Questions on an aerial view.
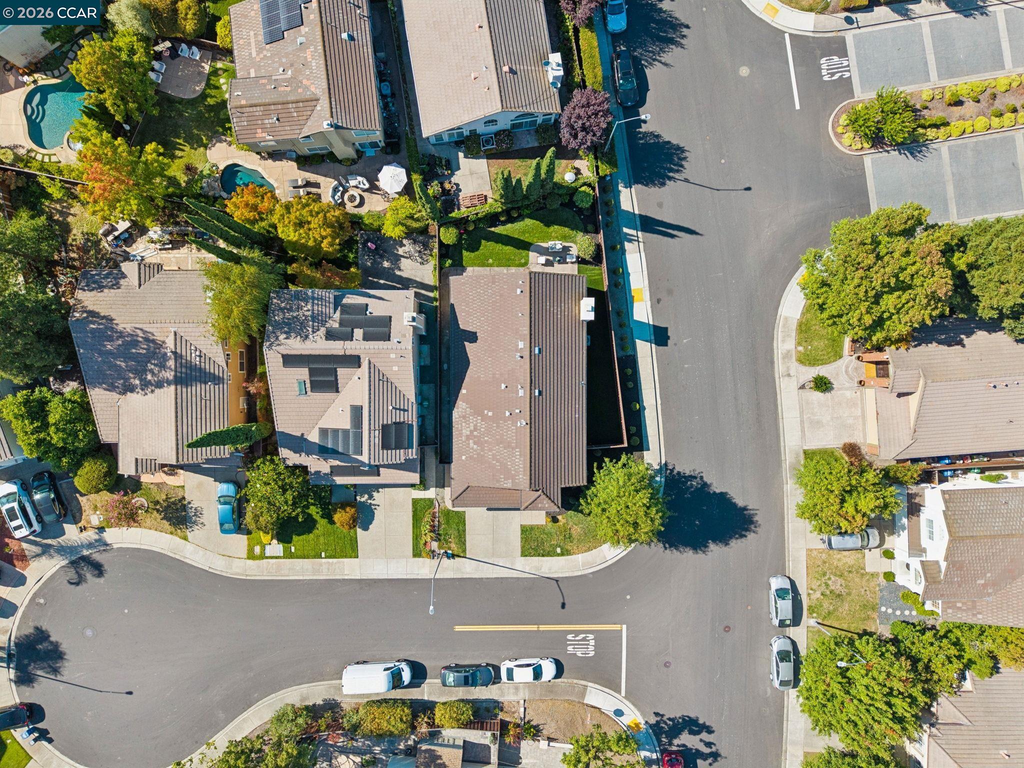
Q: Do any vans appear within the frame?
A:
Yes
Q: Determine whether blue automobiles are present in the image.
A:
Yes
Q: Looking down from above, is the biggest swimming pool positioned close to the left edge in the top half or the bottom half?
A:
top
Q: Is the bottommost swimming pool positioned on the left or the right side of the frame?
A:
left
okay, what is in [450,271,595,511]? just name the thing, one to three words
house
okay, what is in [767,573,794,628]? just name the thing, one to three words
car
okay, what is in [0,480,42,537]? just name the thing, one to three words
car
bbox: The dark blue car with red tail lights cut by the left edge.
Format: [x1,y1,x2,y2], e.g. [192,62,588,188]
[0,698,40,729]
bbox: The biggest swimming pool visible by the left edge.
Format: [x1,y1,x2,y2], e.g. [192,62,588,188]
[19,70,97,154]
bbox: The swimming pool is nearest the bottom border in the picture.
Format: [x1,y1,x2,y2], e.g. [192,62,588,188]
[216,159,281,205]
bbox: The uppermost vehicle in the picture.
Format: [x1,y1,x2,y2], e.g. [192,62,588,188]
[603,0,627,35]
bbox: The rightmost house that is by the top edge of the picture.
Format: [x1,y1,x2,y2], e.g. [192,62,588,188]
[402,0,563,144]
